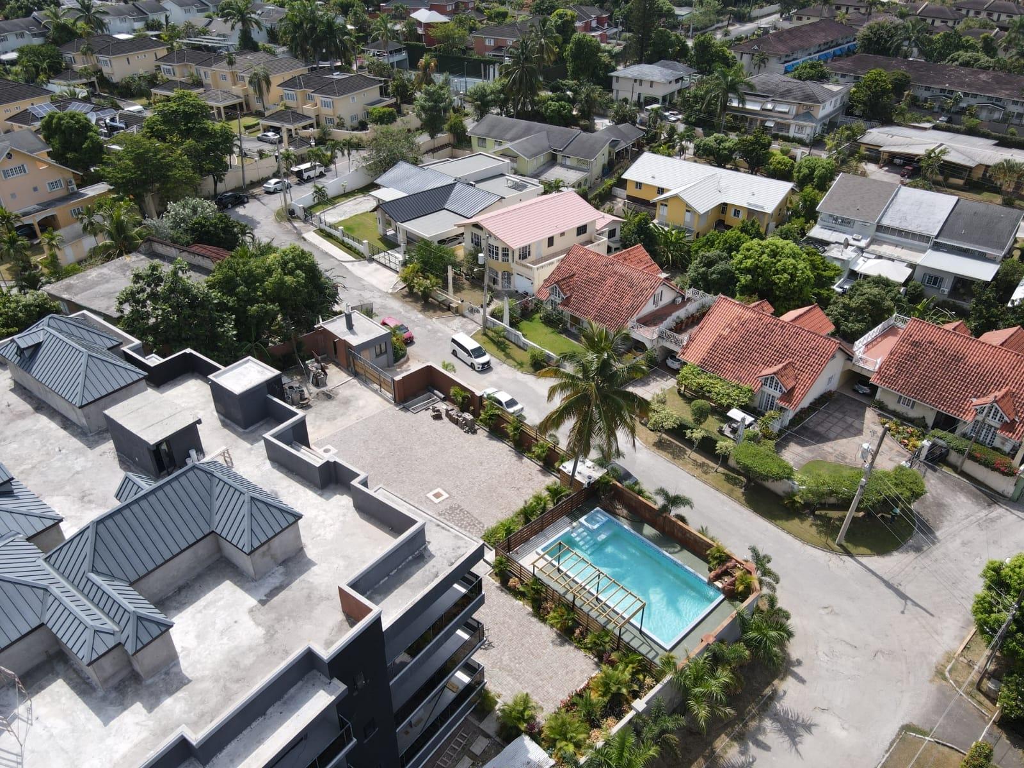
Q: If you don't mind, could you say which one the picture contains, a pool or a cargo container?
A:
pool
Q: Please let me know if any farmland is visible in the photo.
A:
No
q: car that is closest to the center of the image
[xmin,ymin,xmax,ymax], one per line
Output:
[482,385,525,418]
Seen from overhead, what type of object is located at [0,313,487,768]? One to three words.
building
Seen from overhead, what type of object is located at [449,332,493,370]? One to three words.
van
